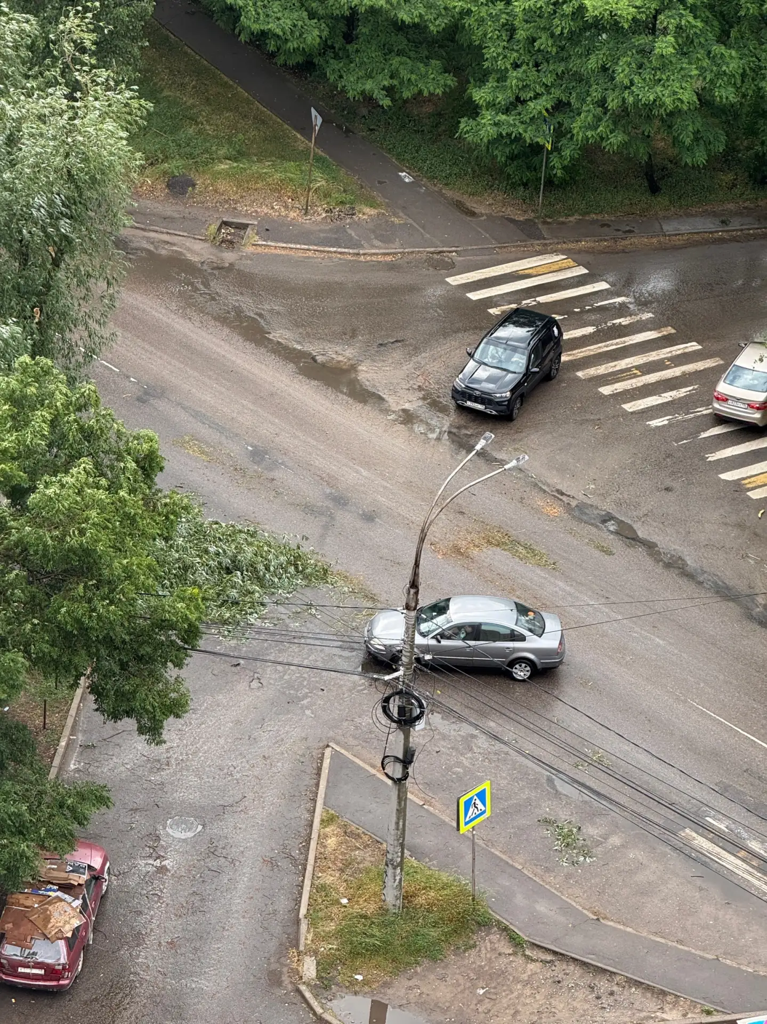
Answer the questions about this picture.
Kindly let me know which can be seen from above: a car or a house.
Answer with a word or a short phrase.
car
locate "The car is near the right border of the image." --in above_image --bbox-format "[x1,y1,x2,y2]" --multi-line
[709,331,767,427]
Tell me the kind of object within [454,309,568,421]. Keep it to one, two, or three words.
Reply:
car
